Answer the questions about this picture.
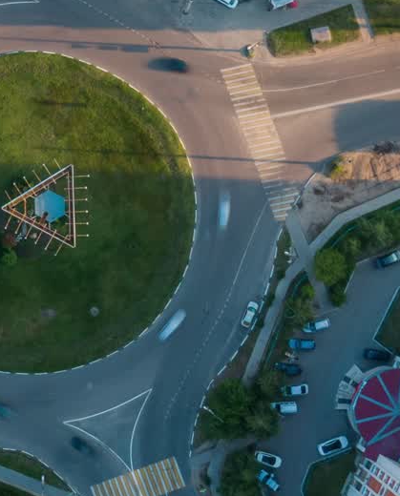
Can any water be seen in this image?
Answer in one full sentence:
No, no water is visible.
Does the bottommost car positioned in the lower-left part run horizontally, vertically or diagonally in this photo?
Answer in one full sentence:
In this picture, the bottommost car positioned in the lower-left part lies diagonally.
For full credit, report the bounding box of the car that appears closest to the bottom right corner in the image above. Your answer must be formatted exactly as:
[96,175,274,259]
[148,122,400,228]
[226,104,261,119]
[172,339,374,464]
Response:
[319,436,347,454]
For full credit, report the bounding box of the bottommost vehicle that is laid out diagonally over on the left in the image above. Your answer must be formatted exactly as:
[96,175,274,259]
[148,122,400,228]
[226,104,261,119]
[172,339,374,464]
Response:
[69,434,94,455]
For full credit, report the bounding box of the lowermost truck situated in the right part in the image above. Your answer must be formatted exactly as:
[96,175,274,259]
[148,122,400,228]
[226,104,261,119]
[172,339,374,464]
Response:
[253,469,281,492]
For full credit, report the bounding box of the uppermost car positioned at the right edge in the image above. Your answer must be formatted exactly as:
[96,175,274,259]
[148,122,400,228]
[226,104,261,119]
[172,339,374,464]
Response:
[376,250,400,268]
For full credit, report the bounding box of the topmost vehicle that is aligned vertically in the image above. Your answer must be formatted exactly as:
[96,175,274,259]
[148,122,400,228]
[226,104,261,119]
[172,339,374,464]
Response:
[217,194,232,223]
